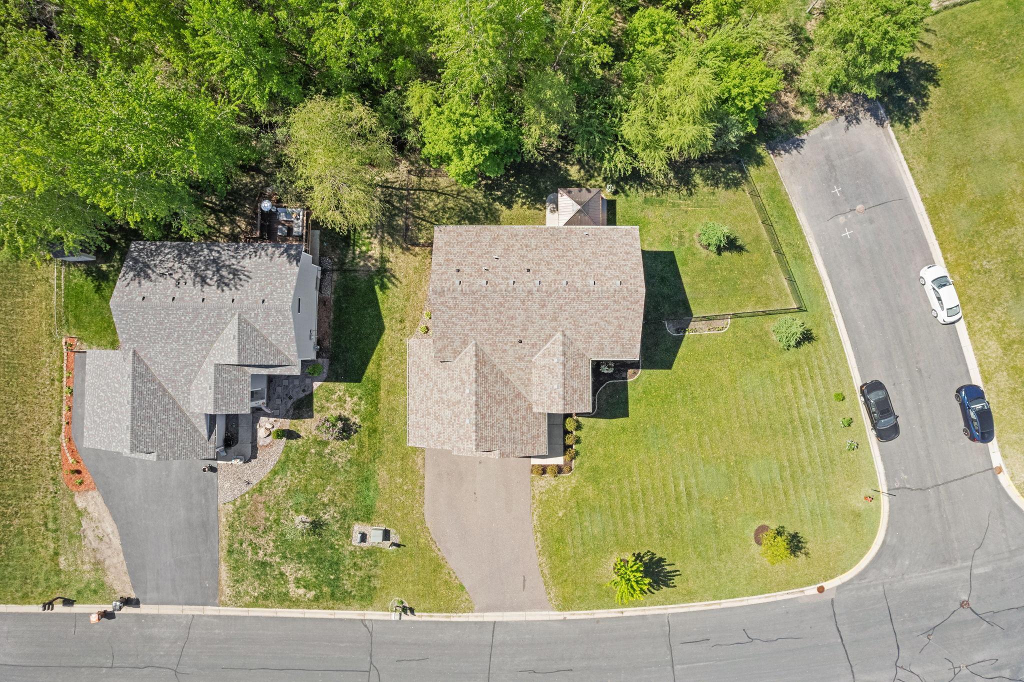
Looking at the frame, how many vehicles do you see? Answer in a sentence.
There are 3 vehicles in the image.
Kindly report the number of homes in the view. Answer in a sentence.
Altogether the scene contains 2 homes.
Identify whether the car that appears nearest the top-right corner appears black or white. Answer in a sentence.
From above, the car that appears nearest the top-right corner appears white.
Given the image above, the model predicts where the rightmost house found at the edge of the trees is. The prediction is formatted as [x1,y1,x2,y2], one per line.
[406,224,645,459]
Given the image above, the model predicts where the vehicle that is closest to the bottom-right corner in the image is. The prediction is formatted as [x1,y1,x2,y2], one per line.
[956,383,996,444]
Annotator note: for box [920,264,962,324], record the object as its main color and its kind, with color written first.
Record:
white car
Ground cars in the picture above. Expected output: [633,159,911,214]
[861,381,900,442]
[920,264,962,324]
[956,383,996,444]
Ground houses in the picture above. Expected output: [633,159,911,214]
[406,224,645,459]
[84,242,321,460]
